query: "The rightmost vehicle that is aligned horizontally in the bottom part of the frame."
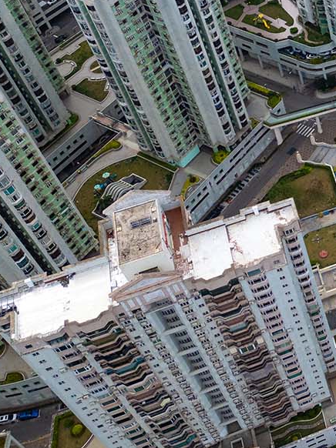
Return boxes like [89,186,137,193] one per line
[12,407,41,421]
